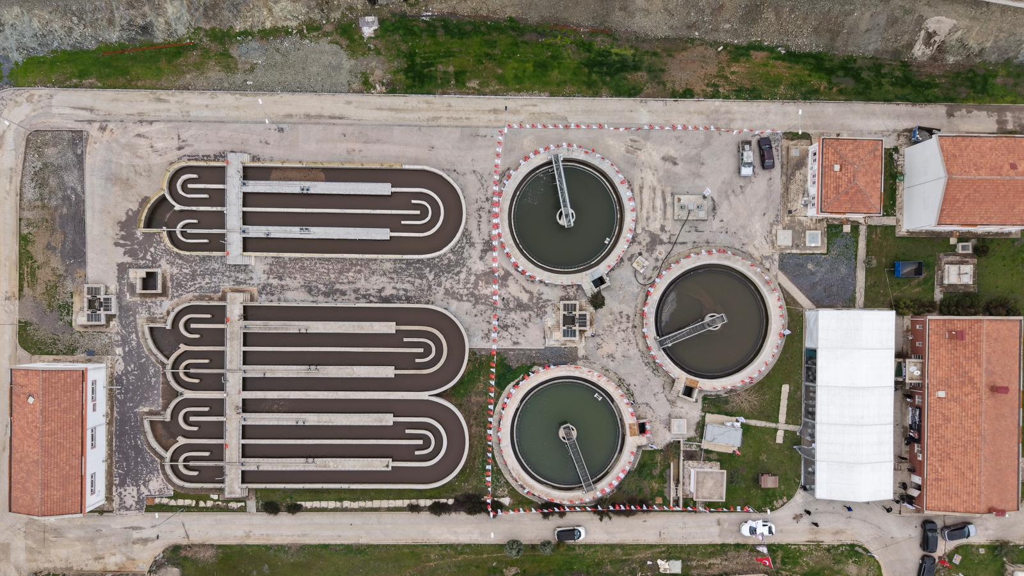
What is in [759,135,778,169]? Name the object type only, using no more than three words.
car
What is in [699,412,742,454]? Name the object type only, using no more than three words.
shed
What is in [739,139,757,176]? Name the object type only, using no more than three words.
vehicle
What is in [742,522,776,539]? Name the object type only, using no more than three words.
car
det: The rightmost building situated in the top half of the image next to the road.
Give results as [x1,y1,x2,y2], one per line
[904,134,1024,230]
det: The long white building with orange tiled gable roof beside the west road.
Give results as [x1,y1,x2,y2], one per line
[2,366,109,519]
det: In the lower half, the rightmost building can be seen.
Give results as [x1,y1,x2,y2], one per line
[901,315,1022,517]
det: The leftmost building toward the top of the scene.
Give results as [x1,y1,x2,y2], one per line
[808,138,884,216]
